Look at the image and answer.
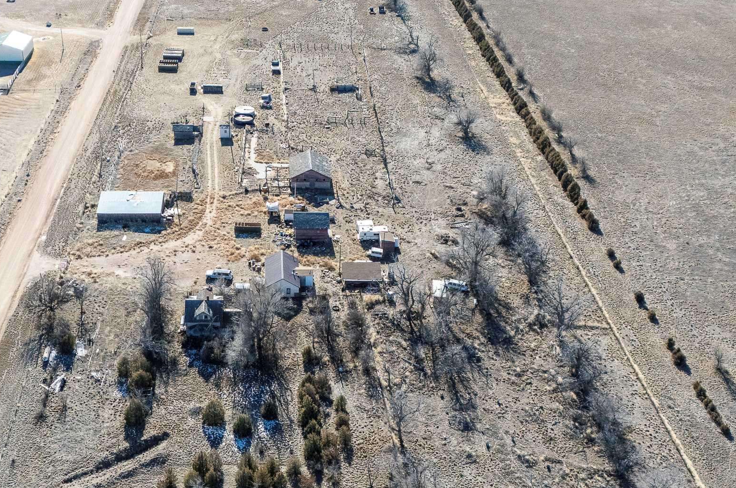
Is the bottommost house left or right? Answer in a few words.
left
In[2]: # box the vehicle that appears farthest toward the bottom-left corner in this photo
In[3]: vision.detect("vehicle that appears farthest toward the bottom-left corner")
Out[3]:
[204,267,233,281]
